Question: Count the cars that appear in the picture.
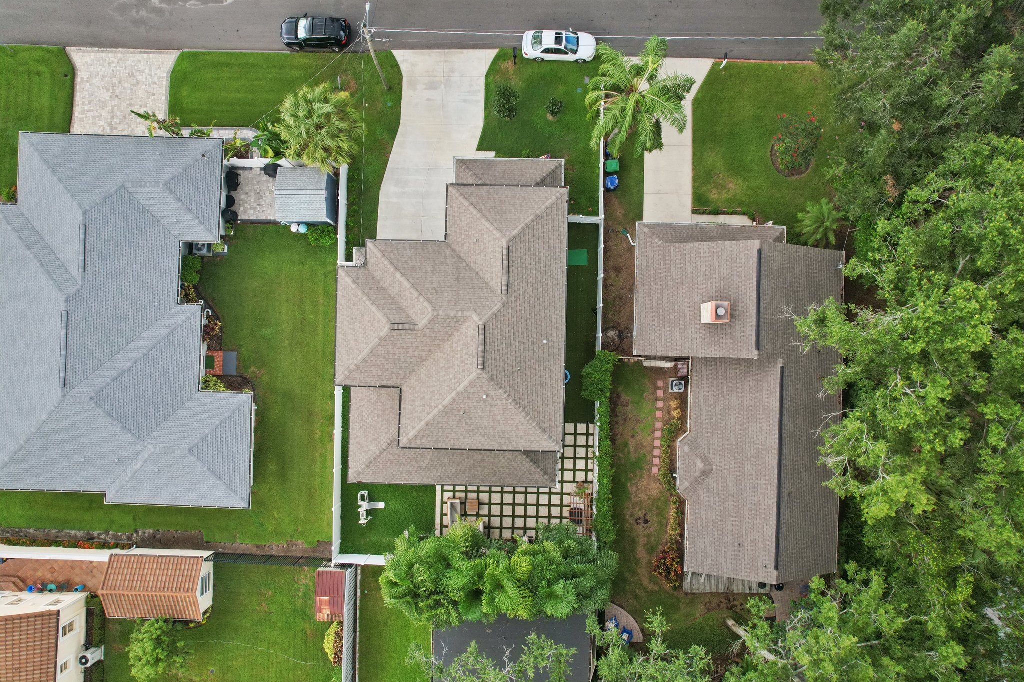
2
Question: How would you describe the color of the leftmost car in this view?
black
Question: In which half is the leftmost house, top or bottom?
bottom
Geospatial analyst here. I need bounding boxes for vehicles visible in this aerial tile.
[280,13,351,54]
[524,27,597,65]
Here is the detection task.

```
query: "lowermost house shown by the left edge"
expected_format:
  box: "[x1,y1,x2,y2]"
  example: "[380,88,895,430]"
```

[0,593,87,682]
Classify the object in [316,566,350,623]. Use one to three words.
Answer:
shed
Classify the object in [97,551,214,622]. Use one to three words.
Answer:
building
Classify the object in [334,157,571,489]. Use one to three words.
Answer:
house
